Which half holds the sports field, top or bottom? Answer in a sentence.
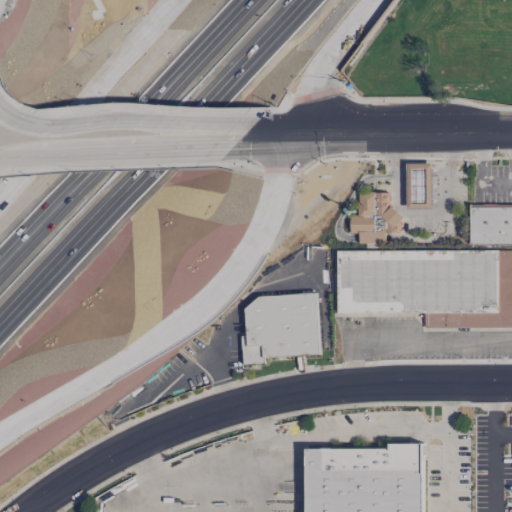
The sports field sits in the top half of the picture.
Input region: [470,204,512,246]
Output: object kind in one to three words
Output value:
building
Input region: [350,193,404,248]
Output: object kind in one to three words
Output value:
building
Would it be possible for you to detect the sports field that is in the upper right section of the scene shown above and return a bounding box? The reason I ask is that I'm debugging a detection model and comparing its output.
[350,0,512,106]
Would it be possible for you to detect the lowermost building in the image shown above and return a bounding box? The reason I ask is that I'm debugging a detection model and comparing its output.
[304,442,428,512]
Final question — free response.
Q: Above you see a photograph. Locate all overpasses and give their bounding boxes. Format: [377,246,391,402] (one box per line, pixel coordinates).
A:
[0,82,270,176]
